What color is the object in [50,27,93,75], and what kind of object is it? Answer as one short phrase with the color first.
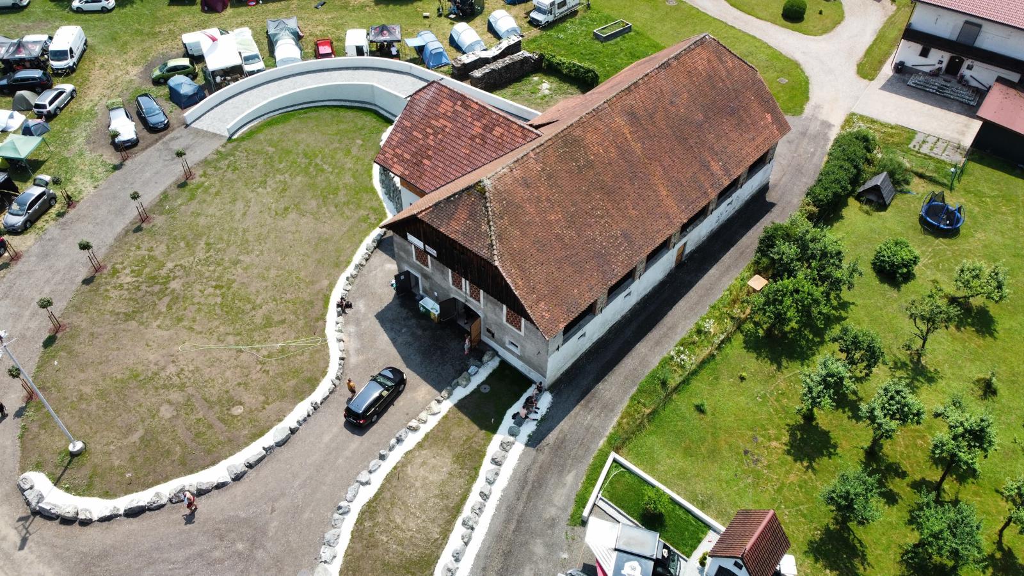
white van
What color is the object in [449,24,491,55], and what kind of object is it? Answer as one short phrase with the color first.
white tent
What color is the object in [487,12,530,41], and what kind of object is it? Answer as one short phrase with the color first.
white tent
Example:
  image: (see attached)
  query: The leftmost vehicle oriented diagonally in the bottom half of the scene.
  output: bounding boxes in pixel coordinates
[342,368,409,431]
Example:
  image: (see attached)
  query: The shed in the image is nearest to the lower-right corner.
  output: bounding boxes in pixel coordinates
[708,508,792,576]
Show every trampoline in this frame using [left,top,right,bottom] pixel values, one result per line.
[915,196,968,244]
